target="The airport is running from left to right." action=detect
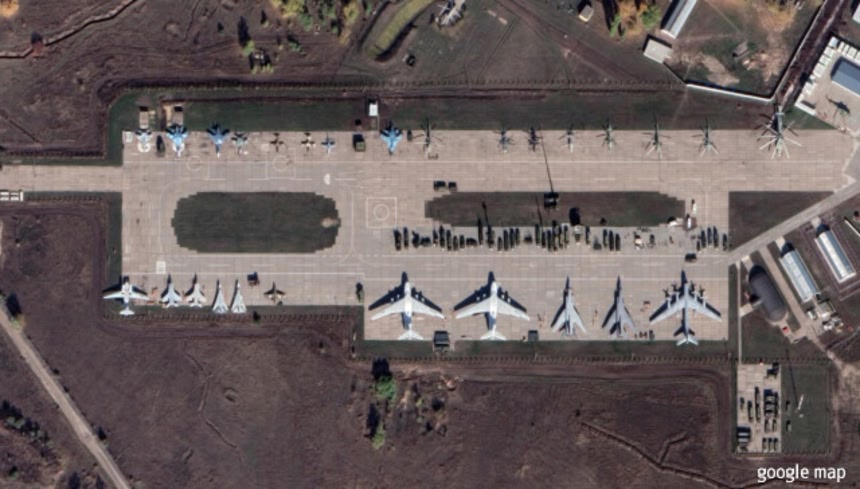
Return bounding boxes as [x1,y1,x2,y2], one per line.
[0,130,854,341]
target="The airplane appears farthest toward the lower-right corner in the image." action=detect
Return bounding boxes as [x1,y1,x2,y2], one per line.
[650,281,722,342]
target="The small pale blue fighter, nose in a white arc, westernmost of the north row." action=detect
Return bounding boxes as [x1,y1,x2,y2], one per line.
[135,129,152,151]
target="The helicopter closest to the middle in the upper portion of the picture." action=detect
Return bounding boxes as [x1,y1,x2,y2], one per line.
[414,123,441,154]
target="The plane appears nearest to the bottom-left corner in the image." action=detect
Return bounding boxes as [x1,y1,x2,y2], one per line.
[103,276,149,311]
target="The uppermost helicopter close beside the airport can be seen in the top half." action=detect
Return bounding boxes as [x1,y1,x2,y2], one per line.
[826,100,852,122]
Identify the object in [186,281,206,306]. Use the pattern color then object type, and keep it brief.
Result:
white airplane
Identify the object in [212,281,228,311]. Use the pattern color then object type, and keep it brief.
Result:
white airplane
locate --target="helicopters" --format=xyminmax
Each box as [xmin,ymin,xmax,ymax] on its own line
[642,124,672,152]
[493,126,517,150]
[695,121,723,151]
[826,100,852,122]
[523,127,545,148]
[414,123,441,154]
[758,109,802,155]
[598,122,622,149]
[560,124,583,150]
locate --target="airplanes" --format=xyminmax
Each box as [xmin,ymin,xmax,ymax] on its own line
[372,279,445,340]
[650,281,722,342]
[233,131,249,153]
[602,283,636,339]
[457,278,530,339]
[380,126,402,154]
[162,282,181,306]
[207,126,229,157]
[186,281,206,306]
[166,125,189,154]
[301,134,316,151]
[322,135,336,153]
[103,276,149,311]
[265,282,286,302]
[231,281,245,312]
[135,129,152,151]
[553,283,587,339]
[212,281,228,311]
[270,135,285,151]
